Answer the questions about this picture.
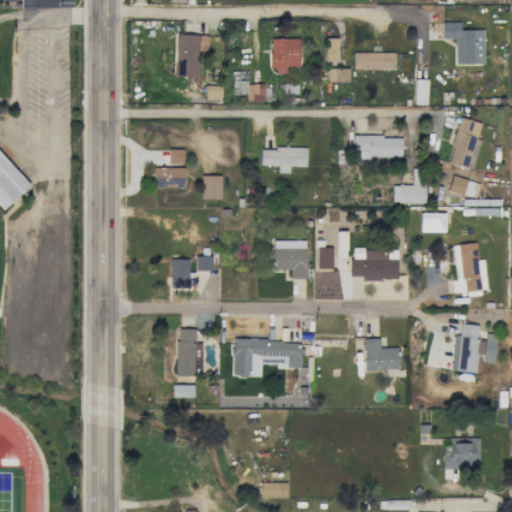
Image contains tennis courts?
No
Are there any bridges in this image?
Yes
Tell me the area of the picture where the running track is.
bottom left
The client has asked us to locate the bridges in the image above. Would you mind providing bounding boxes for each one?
[82,385,124,430]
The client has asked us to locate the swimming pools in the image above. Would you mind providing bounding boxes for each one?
[374,390,388,403]
[206,342,216,368]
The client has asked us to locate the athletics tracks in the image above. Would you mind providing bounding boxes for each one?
[0,404,49,512]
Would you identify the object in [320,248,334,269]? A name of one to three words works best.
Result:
shed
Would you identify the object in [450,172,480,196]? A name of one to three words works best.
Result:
barn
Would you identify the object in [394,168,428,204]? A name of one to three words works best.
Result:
house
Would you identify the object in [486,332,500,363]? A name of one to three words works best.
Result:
shed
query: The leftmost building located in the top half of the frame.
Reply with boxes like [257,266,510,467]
[0,148,32,208]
